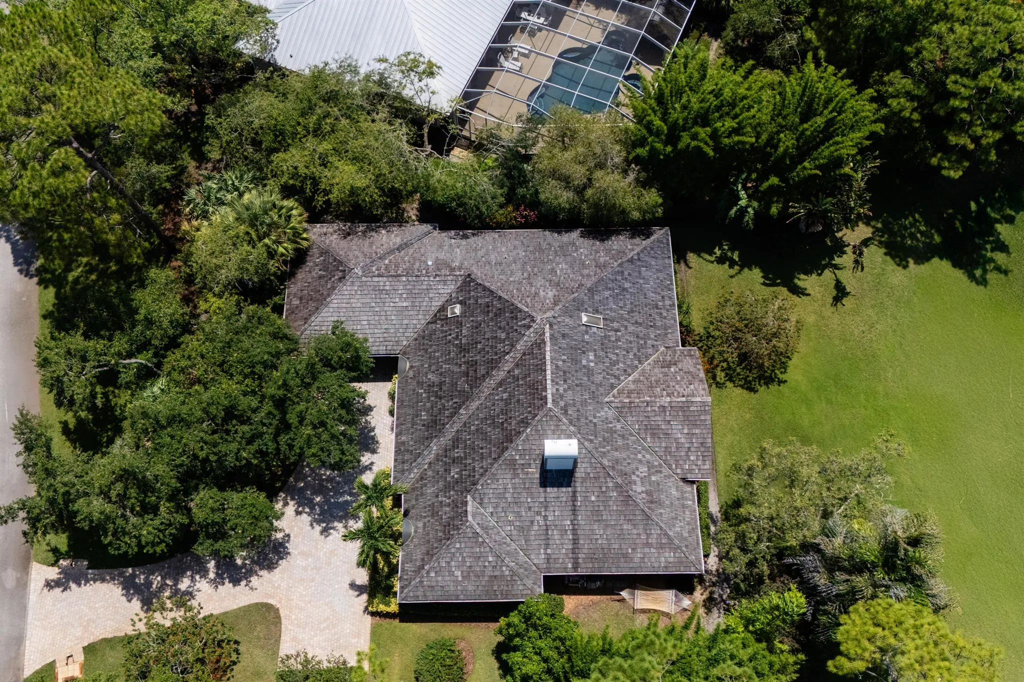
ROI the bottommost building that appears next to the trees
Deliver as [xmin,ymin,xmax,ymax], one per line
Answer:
[279,222,713,604]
